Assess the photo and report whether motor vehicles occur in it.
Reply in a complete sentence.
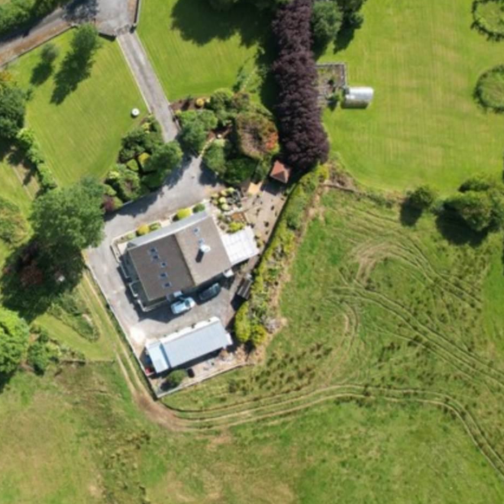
Yes, a motor vehicle is visible in the scene.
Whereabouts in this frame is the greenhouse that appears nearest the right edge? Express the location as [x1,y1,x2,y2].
[344,87,376,106]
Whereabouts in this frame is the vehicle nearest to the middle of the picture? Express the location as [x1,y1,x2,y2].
[196,284,222,302]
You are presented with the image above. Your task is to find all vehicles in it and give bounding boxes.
[196,284,222,302]
[170,297,195,315]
